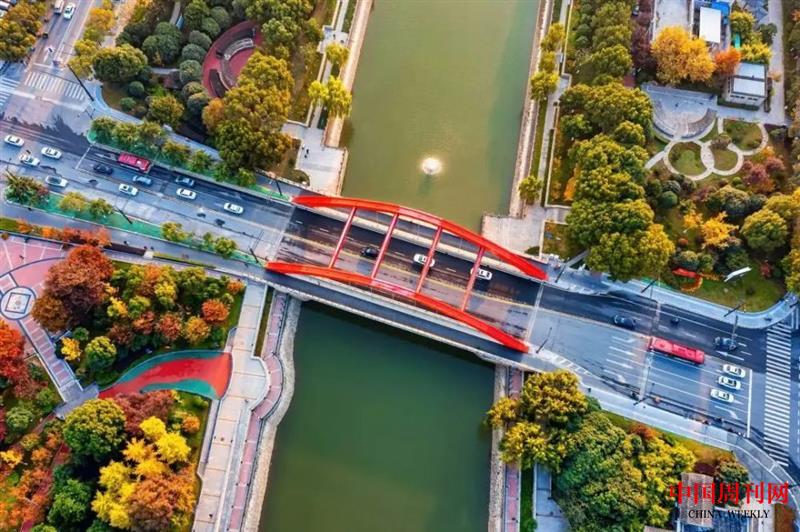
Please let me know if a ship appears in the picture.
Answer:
No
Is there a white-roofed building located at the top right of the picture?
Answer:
Yes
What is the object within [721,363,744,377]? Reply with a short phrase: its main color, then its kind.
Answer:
white car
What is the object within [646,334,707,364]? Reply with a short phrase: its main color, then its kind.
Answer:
red bus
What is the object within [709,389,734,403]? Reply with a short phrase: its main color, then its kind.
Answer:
white car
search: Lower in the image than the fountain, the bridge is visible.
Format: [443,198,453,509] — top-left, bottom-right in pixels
[248,182,559,368]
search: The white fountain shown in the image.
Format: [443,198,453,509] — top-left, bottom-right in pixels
[417,155,448,177]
